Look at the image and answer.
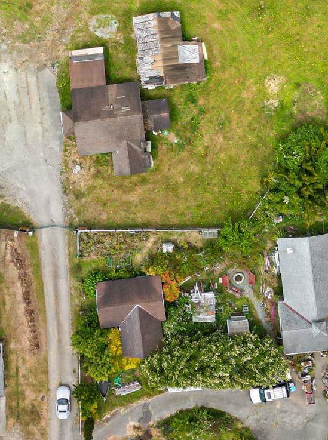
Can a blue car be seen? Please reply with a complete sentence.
No, this view has no blue car in it.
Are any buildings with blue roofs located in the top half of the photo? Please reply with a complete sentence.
No, I can find no building with a blue roof in the top half of the photo.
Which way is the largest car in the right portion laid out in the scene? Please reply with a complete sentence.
In this picture, the largest car in the right portion lies horizontally.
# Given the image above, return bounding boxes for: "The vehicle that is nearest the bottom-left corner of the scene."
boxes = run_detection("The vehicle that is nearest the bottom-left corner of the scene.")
[55,385,72,420]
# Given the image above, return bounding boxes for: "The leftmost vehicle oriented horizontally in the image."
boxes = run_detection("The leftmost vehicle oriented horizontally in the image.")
[251,384,290,404]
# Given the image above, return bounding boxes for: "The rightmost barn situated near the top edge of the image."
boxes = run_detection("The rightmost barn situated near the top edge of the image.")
[133,11,205,88]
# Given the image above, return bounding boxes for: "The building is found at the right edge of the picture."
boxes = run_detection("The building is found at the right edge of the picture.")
[278,232,328,355]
